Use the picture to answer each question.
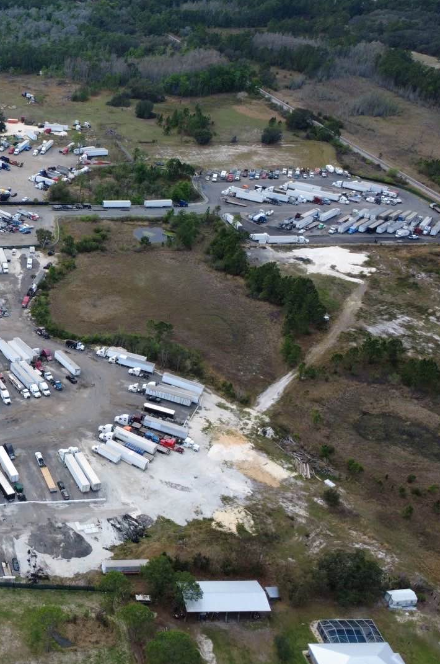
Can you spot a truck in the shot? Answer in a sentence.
Yes, this view includes a truck.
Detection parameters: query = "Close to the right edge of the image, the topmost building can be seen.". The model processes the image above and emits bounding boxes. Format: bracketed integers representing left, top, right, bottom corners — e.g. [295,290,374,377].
[388,588,423,615]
